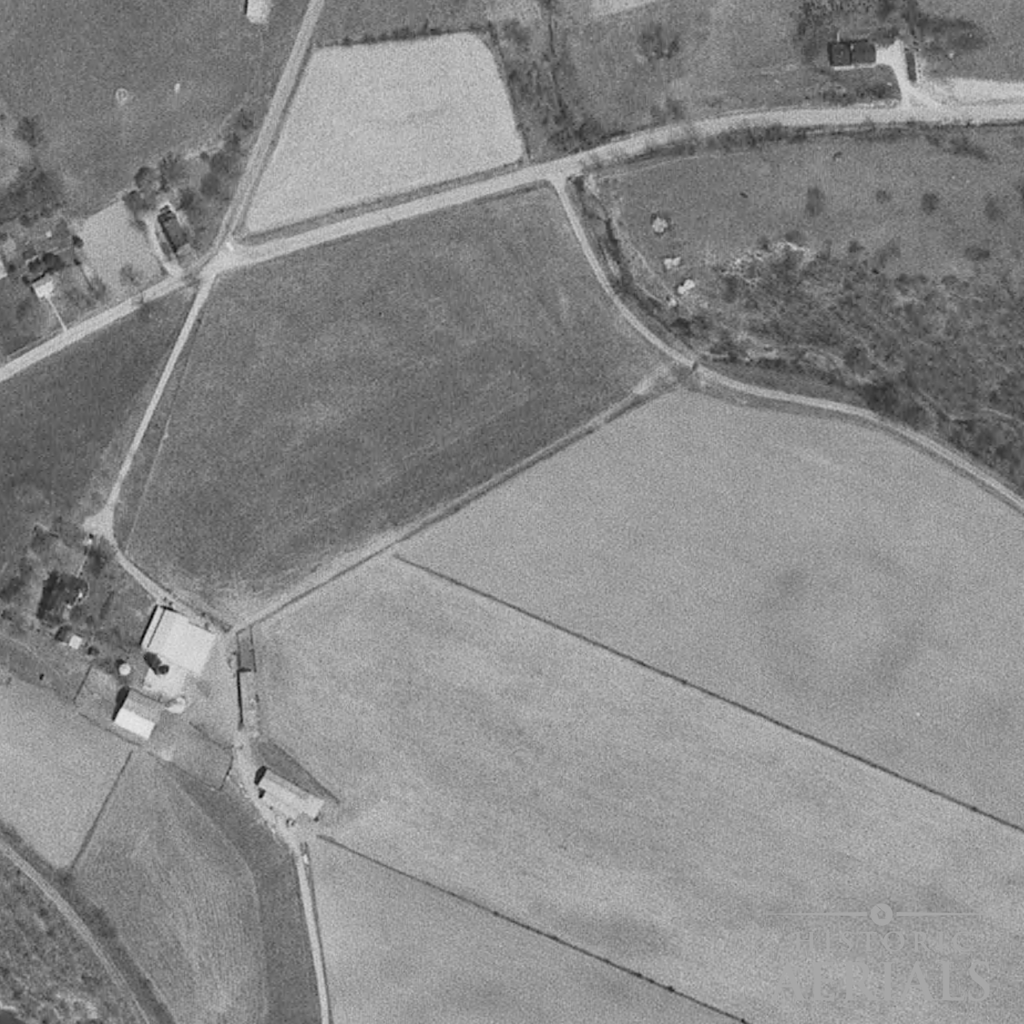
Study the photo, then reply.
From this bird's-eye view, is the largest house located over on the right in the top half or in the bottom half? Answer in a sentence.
The largest house located over on the right is in the top half of the image.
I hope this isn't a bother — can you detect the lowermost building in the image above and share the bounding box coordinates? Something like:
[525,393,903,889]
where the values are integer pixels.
[258,768,324,817]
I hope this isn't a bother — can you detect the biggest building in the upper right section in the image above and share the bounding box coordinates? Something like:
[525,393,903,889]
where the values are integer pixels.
[829,42,876,67]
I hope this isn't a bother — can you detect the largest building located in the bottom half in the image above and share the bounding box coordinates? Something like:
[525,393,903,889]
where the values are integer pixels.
[141,606,215,675]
